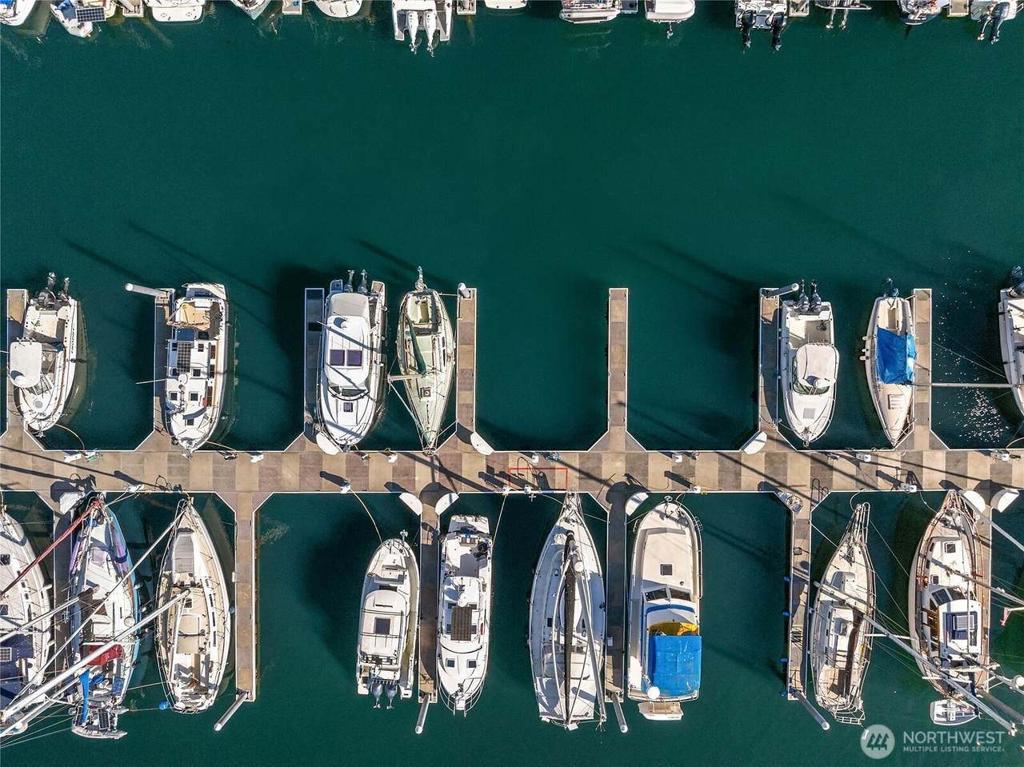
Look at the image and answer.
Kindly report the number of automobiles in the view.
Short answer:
zero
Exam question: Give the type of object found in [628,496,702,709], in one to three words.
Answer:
boat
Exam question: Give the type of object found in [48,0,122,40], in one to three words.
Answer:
boat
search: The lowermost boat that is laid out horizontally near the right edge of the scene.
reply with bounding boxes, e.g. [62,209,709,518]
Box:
[926,699,984,725]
